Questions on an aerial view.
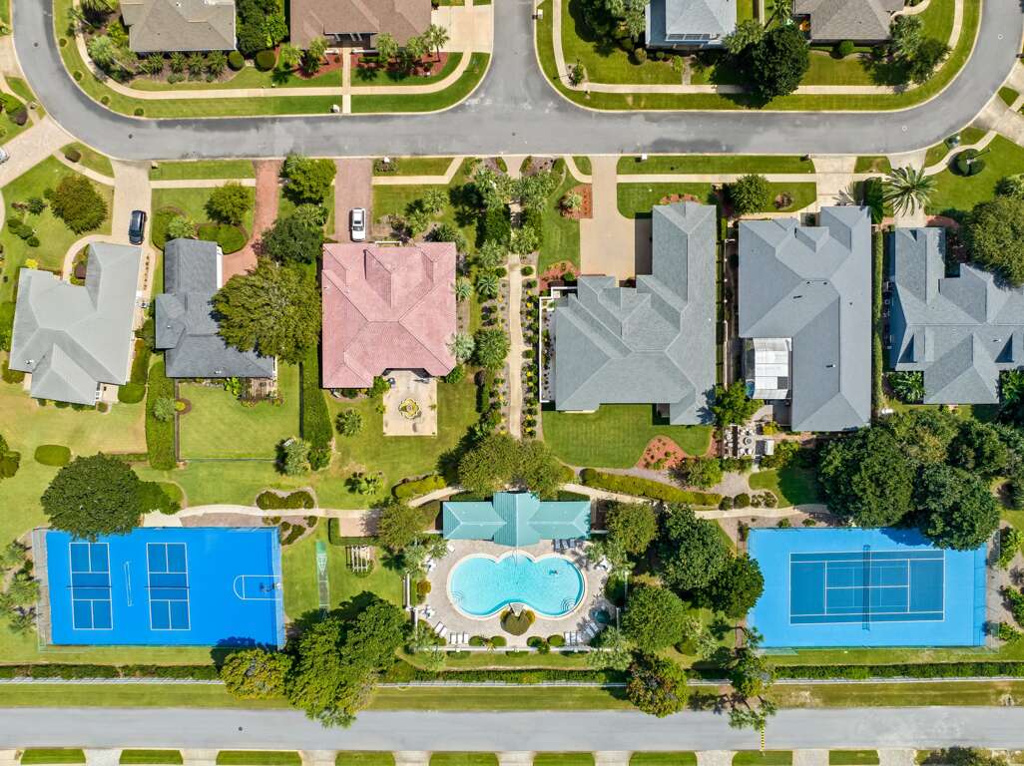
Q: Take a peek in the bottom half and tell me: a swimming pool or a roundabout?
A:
swimming pool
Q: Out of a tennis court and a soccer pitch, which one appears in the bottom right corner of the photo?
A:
tennis court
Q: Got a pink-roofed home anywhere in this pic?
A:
Yes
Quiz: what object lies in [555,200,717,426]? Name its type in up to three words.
house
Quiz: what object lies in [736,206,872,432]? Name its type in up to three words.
house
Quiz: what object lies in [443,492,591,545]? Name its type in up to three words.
building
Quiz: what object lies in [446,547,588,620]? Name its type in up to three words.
swimming pool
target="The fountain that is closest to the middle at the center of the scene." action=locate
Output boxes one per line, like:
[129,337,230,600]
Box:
[400,398,420,418]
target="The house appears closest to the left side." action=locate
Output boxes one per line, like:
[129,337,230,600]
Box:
[9,242,148,406]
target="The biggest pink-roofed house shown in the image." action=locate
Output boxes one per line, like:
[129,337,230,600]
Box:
[322,240,456,388]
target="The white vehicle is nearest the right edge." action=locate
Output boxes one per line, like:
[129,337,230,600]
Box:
[350,207,365,240]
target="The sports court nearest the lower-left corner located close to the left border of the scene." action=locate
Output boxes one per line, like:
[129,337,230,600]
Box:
[46,527,285,648]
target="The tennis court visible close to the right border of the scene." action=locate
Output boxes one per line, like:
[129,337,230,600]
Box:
[748,528,988,648]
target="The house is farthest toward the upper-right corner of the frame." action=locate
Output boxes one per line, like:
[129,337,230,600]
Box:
[792,0,904,45]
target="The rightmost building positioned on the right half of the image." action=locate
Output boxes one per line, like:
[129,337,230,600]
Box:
[887,227,1024,419]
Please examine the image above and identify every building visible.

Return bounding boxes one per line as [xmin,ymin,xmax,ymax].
[736,206,872,432]
[155,236,279,380]
[290,0,431,55]
[443,492,591,545]
[322,240,456,388]
[9,242,148,406]
[120,0,240,56]
[887,227,1024,419]
[792,0,904,45]
[647,0,736,51]
[555,200,717,426]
